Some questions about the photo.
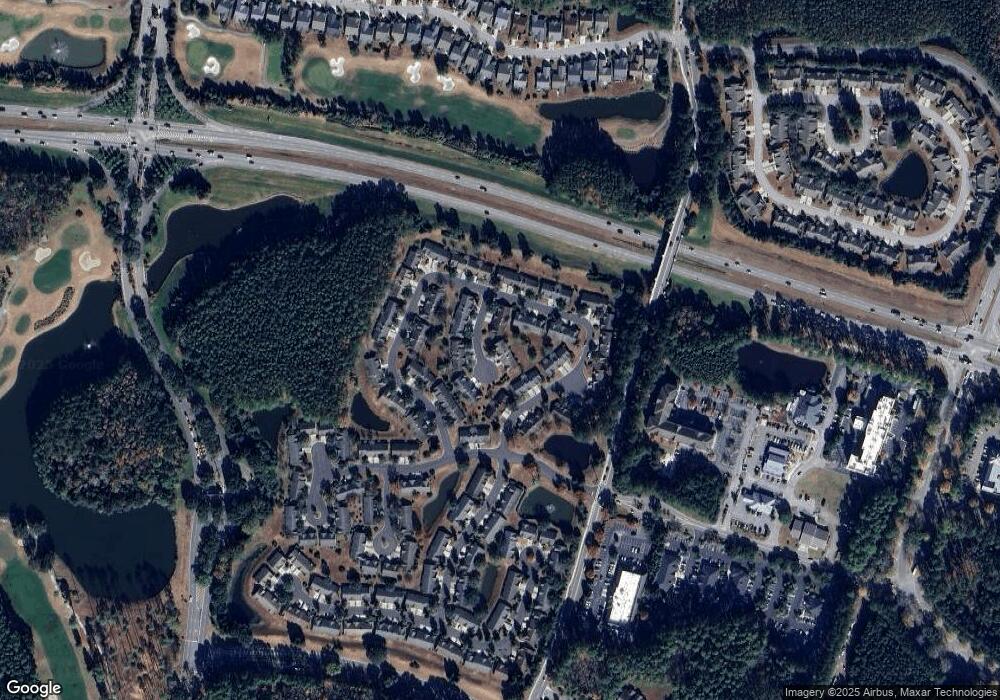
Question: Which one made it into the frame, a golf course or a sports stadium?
golf course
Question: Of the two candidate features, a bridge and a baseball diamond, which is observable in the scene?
bridge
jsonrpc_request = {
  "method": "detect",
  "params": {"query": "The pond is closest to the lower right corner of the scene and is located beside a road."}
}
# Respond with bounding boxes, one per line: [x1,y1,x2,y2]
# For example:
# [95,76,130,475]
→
[738,344,826,396]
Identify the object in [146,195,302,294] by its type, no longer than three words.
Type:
pond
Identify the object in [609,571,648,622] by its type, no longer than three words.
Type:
building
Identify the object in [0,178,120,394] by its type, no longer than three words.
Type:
golf course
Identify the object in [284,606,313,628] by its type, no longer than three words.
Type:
house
